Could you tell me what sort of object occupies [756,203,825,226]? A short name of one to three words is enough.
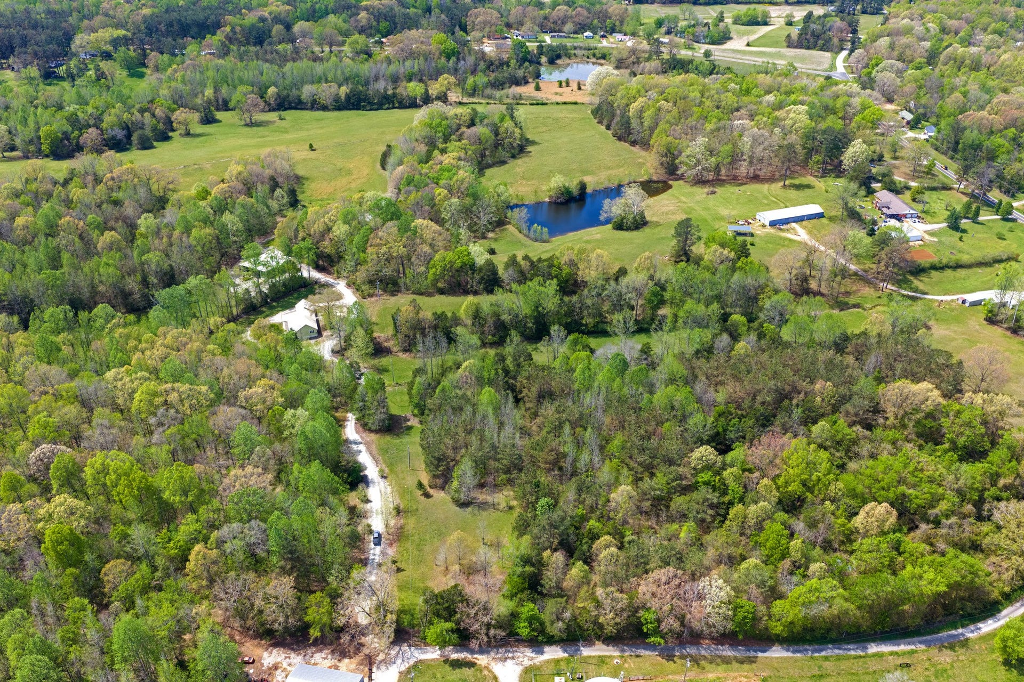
shed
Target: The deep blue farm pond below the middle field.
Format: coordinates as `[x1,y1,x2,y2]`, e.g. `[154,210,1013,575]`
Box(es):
[500,179,677,240]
